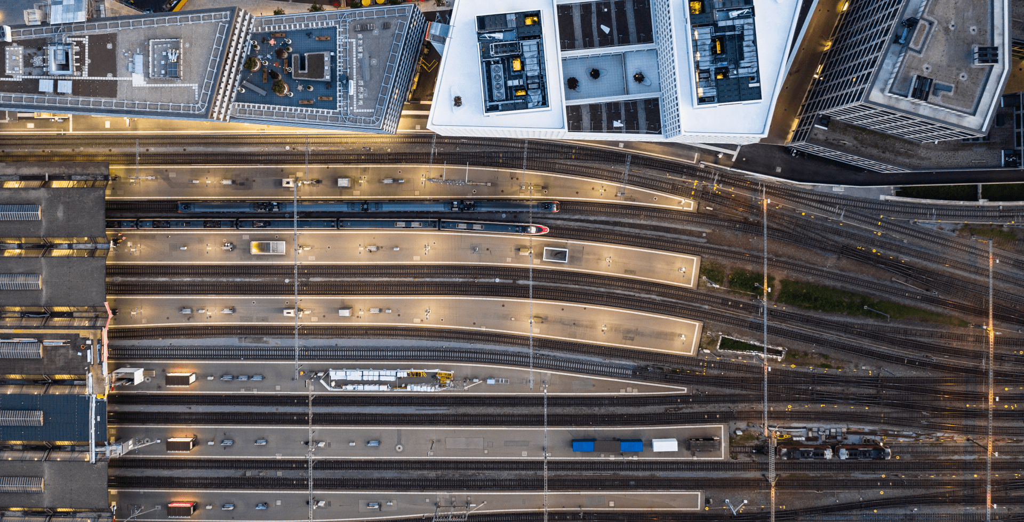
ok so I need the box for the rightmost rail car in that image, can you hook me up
[831,445,889,459]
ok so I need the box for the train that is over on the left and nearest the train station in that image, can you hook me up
[106,218,549,235]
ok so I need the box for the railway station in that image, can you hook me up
[0,162,111,522]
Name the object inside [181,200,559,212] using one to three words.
train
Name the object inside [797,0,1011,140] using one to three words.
building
